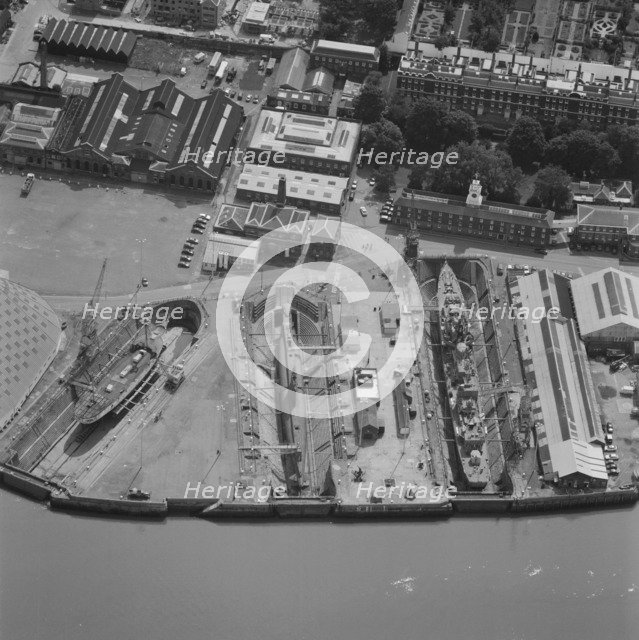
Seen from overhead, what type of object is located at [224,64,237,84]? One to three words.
vehicle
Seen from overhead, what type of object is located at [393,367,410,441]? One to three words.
shed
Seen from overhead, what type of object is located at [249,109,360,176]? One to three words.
building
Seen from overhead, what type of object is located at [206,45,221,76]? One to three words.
vehicle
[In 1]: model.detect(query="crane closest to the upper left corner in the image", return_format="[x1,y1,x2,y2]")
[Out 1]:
[69,261,106,372]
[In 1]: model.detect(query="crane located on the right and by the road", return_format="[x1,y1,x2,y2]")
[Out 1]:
[401,199,425,271]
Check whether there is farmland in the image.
No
